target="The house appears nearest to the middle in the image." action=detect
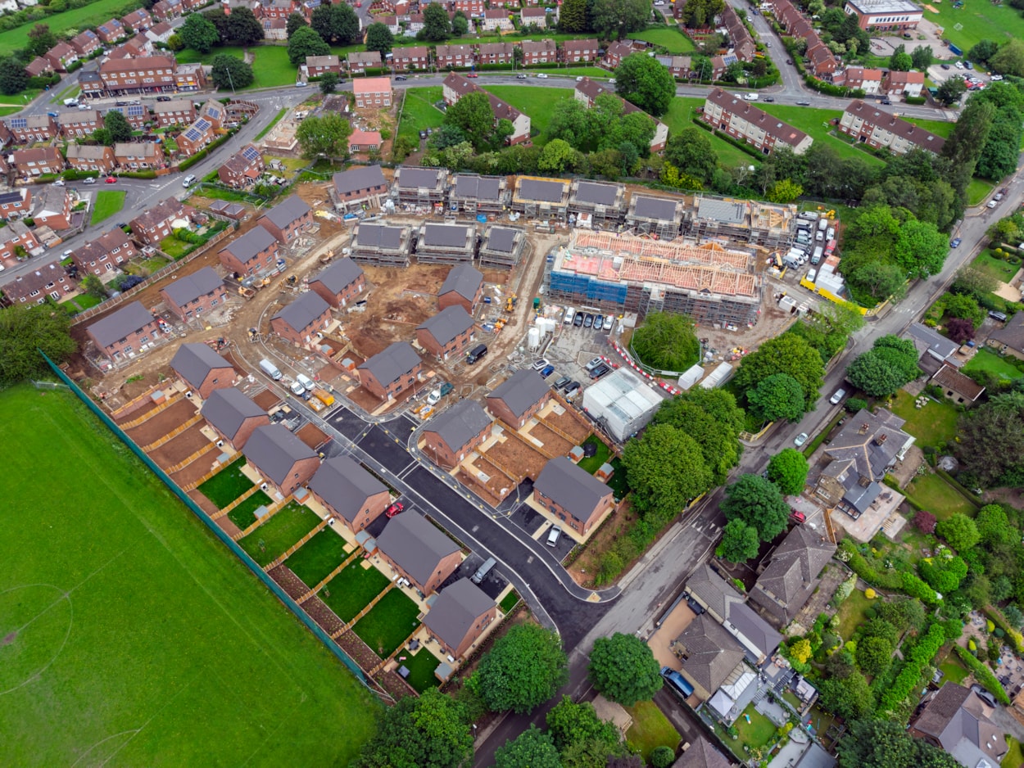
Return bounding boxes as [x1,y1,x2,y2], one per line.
[486,367,551,434]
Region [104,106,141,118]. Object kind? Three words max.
solar panel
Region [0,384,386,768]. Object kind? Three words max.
sports field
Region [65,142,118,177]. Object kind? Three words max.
house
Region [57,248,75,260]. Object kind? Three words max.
vehicle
